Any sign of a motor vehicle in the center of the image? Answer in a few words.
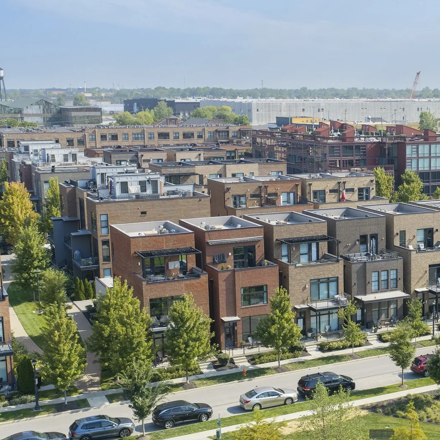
No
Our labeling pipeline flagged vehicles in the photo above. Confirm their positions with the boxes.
[409,353,440,377]
[151,400,213,429]
[298,370,359,399]
[0,428,66,440]
[69,413,135,440]
[239,387,298,410]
